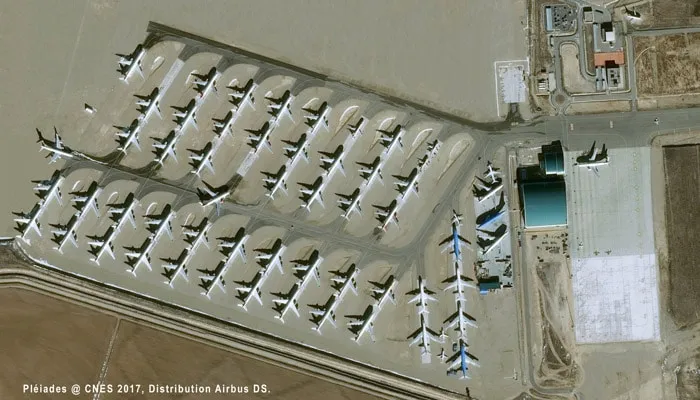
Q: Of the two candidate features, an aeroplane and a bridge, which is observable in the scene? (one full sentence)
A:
There is an aeroplane in the scene.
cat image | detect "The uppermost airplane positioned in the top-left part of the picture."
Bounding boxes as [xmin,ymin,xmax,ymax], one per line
[120,53,145,81]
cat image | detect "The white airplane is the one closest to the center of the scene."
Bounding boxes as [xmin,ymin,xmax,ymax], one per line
[338,194,363,222]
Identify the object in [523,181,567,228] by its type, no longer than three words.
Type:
hangar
